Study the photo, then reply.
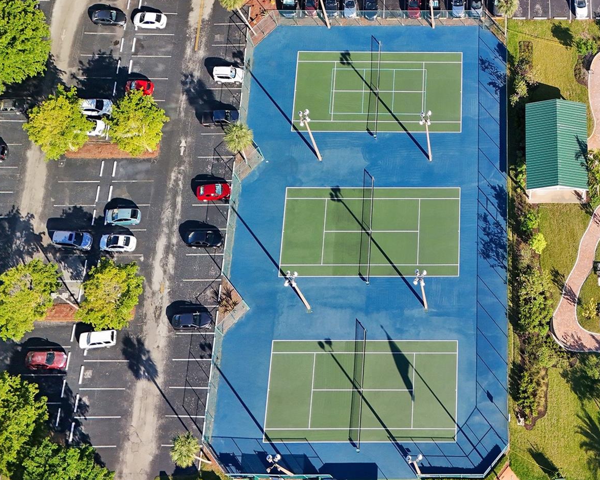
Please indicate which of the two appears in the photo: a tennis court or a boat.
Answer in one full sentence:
Visible in the photo is a tennis court.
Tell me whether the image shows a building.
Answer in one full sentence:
Yes, I can see a building in this picture.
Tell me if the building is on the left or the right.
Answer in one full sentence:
The building appears in the right half of the scene.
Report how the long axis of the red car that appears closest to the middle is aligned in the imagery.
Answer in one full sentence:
From this overhead view, the red car that appears closest to the middle appears to run horizontally.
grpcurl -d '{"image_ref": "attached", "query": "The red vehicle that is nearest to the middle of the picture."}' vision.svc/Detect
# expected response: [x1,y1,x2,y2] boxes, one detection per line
[194,182,232,201]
